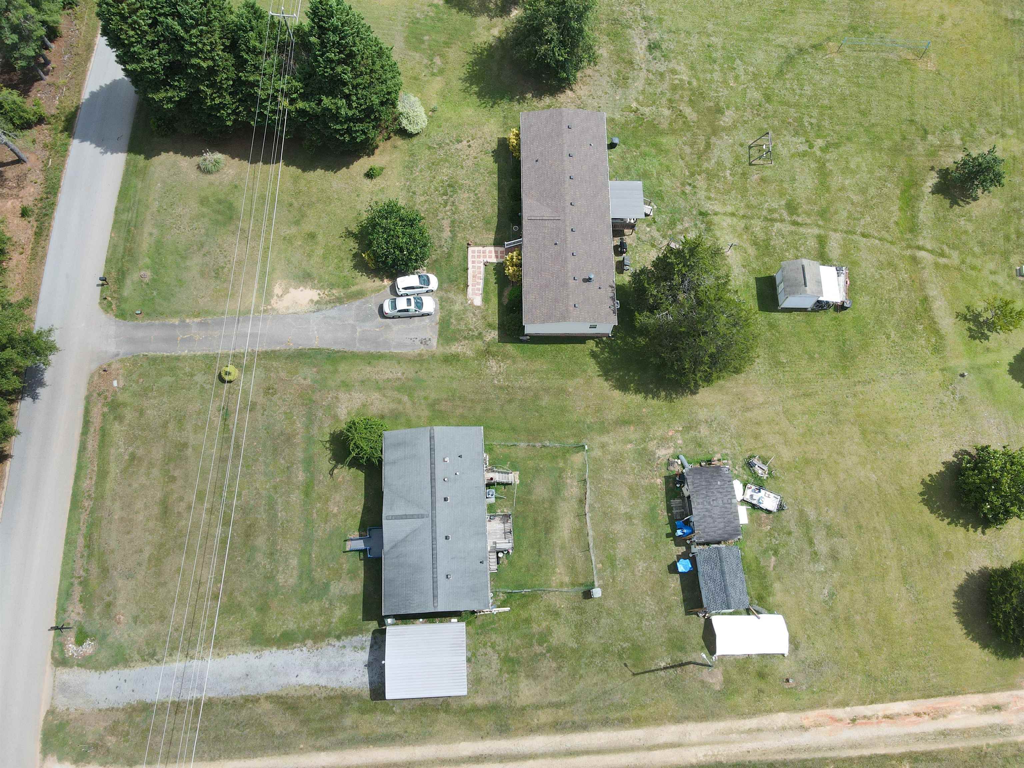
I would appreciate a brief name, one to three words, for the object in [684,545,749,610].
shed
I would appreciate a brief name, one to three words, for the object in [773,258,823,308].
shed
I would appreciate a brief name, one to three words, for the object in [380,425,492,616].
house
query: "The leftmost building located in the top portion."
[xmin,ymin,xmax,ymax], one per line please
[520,107,618,338]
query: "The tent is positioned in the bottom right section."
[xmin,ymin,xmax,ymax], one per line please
[707,614,787,656]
